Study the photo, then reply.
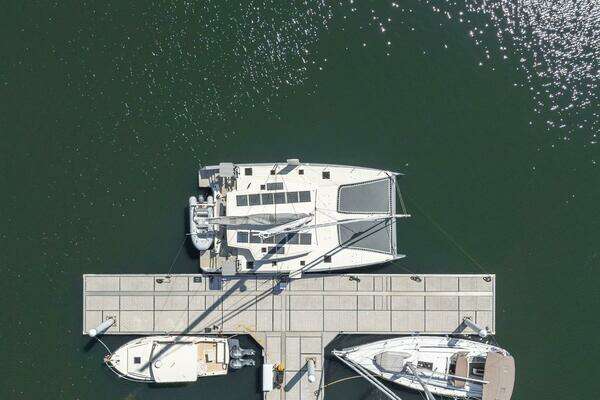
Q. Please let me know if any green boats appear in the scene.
No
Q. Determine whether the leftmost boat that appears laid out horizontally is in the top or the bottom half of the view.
bottom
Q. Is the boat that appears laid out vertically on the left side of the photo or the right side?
left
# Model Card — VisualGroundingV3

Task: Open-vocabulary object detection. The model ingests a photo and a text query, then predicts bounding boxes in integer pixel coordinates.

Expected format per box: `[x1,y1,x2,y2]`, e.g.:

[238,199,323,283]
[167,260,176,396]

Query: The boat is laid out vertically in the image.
[186,193,214,252]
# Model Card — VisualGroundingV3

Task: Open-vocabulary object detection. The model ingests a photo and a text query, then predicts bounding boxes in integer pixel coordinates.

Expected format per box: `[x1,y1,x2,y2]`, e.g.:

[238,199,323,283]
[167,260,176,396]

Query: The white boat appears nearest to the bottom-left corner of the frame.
[103,334,257,384]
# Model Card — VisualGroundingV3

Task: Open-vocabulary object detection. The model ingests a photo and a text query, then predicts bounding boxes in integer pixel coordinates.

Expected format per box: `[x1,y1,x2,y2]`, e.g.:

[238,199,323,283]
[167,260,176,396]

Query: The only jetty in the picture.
[83,274,495,400]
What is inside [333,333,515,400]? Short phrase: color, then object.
white boat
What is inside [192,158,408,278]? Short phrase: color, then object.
white boat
